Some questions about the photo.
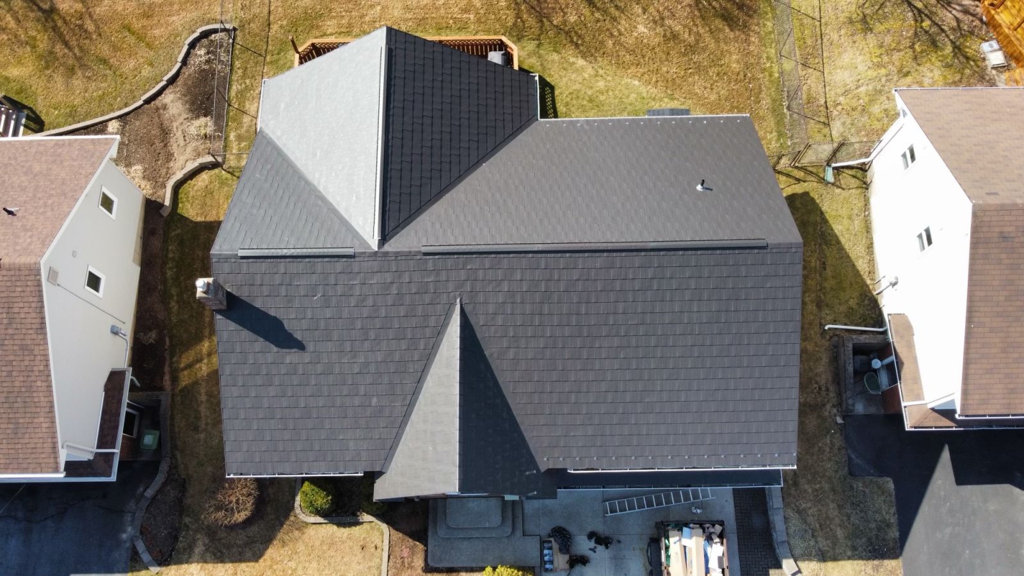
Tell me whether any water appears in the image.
No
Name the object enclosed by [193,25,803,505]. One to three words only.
house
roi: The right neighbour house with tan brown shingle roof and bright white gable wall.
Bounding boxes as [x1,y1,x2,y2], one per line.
[823,84,1024,431]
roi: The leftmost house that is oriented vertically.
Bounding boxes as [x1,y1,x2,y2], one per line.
[0,133,165,485]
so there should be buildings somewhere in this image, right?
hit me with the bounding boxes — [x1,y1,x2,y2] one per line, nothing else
[0,133,165,485]
[823,84,1024,431]
[193,25,803,505]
